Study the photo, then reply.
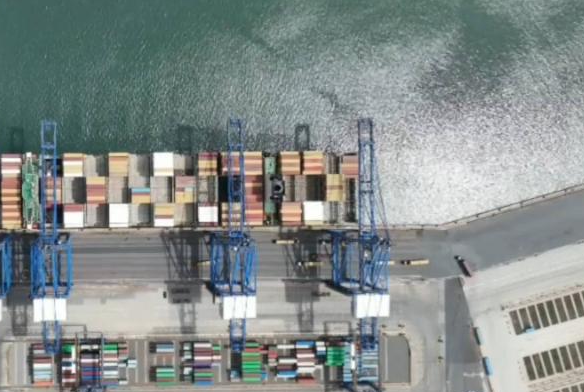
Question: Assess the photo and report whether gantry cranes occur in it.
Yes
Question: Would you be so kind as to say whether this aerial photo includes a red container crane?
No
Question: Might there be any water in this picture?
Yes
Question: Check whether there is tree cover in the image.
No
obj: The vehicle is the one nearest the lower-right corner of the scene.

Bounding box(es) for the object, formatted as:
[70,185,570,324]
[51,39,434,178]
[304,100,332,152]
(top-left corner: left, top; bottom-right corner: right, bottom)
[456,257,475,278]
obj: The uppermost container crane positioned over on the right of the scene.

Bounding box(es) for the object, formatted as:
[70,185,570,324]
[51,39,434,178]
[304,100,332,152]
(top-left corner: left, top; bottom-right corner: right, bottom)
[323,117,394,349]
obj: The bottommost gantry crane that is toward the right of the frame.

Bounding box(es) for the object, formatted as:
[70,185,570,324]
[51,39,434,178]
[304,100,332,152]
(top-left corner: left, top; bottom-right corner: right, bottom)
[341,325,384,392]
